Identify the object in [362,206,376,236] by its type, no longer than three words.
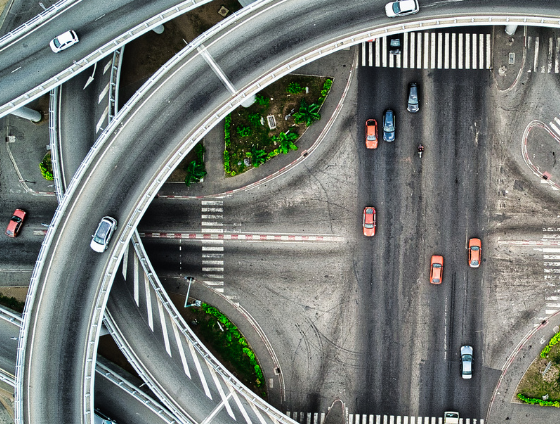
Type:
car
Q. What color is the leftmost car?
red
